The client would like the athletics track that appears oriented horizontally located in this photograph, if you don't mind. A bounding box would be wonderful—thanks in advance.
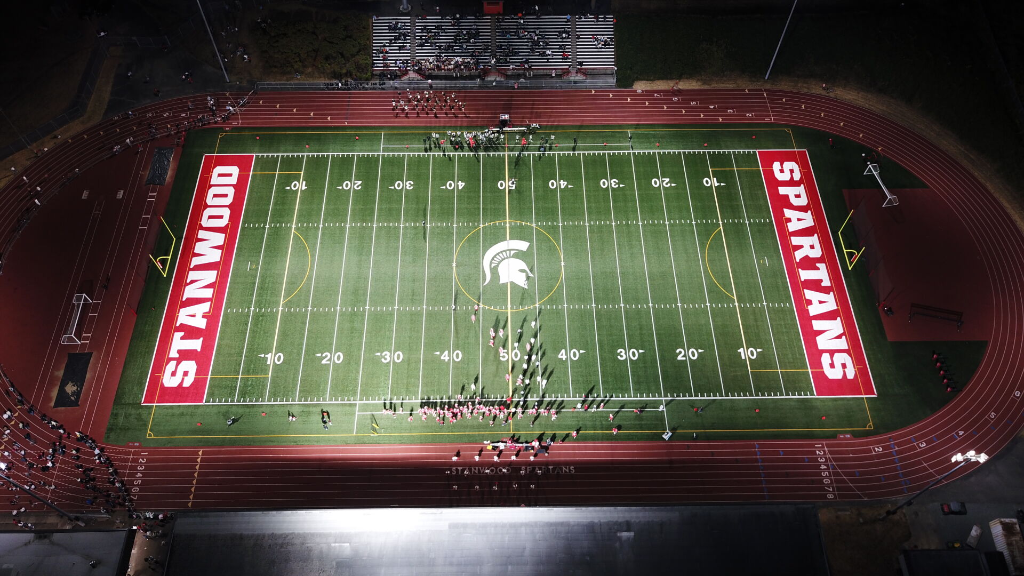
[0,88,1024,514]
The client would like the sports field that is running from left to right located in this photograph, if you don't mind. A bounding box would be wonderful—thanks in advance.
[103,124,990,447]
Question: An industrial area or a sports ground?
sports ground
